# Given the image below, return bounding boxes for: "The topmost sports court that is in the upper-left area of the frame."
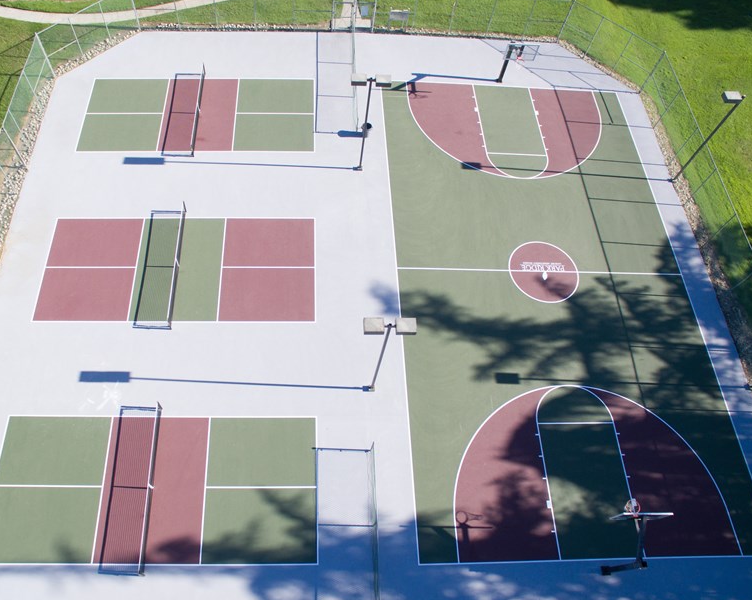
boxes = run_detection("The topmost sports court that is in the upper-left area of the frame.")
[76,78,315,152]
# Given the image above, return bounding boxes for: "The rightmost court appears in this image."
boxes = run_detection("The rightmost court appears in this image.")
[381,81,752,565]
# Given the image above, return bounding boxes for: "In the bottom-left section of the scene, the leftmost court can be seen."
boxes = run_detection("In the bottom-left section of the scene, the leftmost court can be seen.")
[0,415,318,565]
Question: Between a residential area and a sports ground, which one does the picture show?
sports ground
